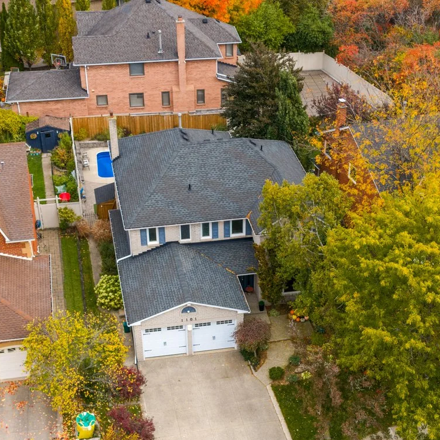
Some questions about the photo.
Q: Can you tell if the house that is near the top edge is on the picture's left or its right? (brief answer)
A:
left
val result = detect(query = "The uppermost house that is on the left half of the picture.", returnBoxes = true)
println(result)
[5,0,244,123]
